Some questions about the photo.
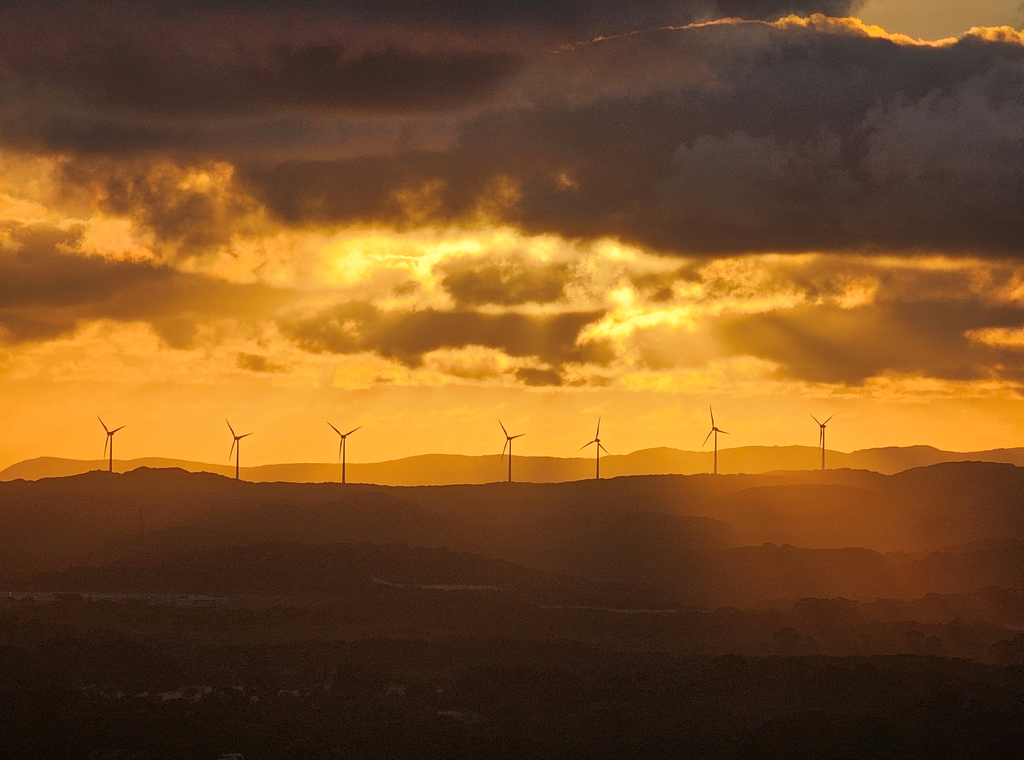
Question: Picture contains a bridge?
No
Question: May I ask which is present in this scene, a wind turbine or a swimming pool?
wind turbine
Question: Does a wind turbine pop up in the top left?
No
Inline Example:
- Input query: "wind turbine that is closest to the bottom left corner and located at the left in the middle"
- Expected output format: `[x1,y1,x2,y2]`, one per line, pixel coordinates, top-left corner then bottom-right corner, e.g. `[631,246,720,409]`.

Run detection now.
[98,417,125,472]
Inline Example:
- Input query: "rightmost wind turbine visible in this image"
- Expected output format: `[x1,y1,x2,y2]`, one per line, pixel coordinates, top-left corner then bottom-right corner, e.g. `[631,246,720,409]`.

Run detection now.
[810,414,831,468]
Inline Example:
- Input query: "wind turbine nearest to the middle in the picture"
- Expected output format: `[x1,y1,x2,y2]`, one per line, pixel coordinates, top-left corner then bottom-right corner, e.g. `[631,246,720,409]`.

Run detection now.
[498,420,524,482]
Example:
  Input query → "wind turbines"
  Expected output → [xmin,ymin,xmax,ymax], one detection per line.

[225,419,252,480]
[327,421,361,484]
[498,420,524,482]
[581,420,609,478]
[810,414,831,468]
[702,406,730,473]
[98,417,125,472]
